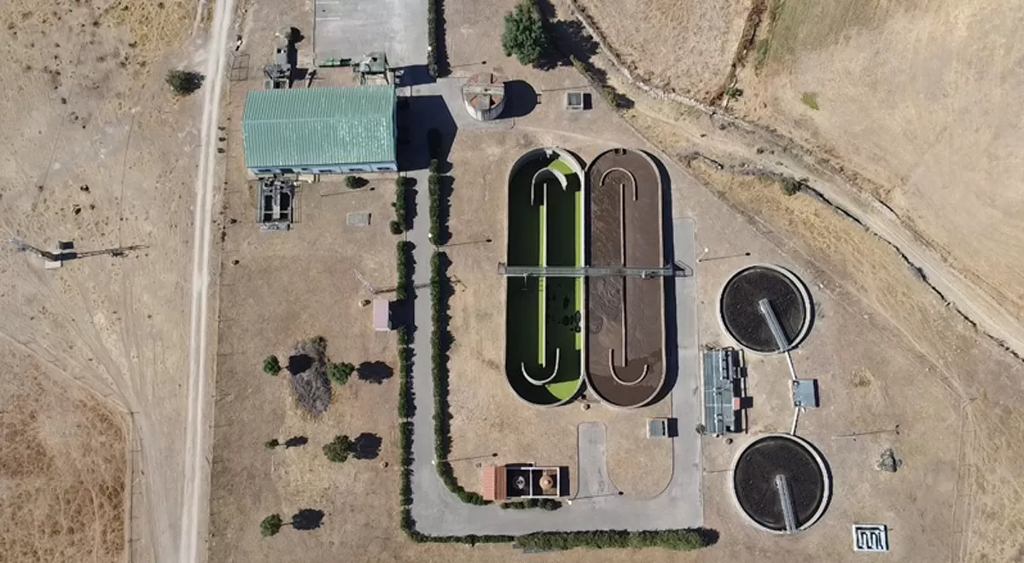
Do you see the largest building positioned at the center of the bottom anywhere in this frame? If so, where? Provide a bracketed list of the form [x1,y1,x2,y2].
[483,463,561,502]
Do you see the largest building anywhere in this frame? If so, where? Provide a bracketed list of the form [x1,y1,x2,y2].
[243,86,399,177]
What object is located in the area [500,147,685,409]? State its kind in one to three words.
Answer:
storage tank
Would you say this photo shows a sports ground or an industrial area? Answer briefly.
industrial area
